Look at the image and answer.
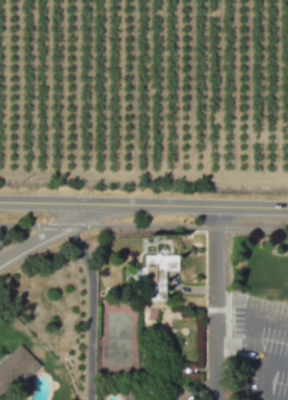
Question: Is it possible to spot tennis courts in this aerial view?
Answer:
Yes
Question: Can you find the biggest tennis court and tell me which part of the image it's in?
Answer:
bottom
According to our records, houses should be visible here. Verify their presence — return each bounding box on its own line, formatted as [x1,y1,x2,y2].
[136,252,180,303]
[0,346,42,396]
